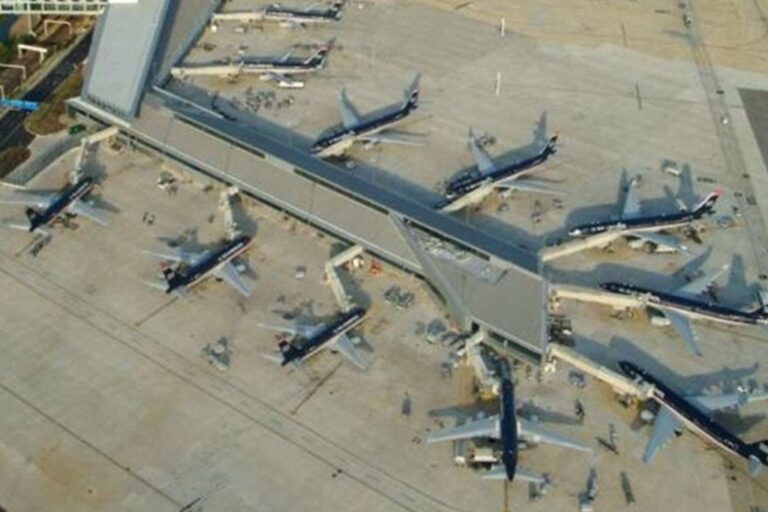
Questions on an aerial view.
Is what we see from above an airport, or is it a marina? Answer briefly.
airport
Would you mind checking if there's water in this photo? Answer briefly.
No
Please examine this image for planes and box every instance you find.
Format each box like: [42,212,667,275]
[617,361,768,478]
[447,130,571,200]
[141,233,252,300]
[310,85,431,159]
[248,0,344,35]
[568,181,724,256]
[220,41,324,91]
[254,302,371,376]
[0,175,111,236]
[426,378,593,483]
[602,267,768,352]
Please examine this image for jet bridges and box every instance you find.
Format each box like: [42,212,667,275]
[543,343,664,406]
[436,174,494,219]
[548,286,654,322]
[70,126,120,184]
[221,186,244,241]
[303,130,357,166]
[210,7,266,33]
[170,60,244,89]
[326,243,362,314]
[536,219,632,265]
[463,327,511,396]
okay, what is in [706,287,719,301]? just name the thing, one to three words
vehicle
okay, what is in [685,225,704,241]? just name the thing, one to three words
work vehicle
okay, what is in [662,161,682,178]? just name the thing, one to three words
vehicle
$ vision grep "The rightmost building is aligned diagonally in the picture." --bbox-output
[64,0,548,383]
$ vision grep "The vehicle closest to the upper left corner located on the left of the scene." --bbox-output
[66,123,87,136]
